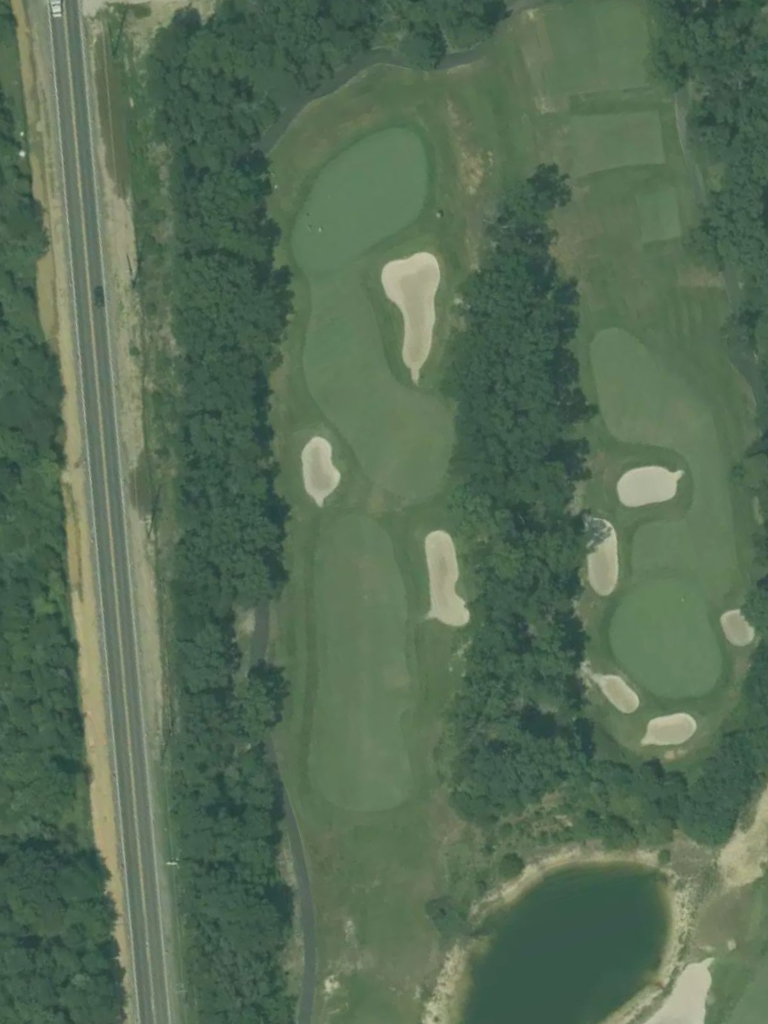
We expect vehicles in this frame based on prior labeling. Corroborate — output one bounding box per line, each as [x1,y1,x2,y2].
[94,287,105,309]
[51,0,62,19]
